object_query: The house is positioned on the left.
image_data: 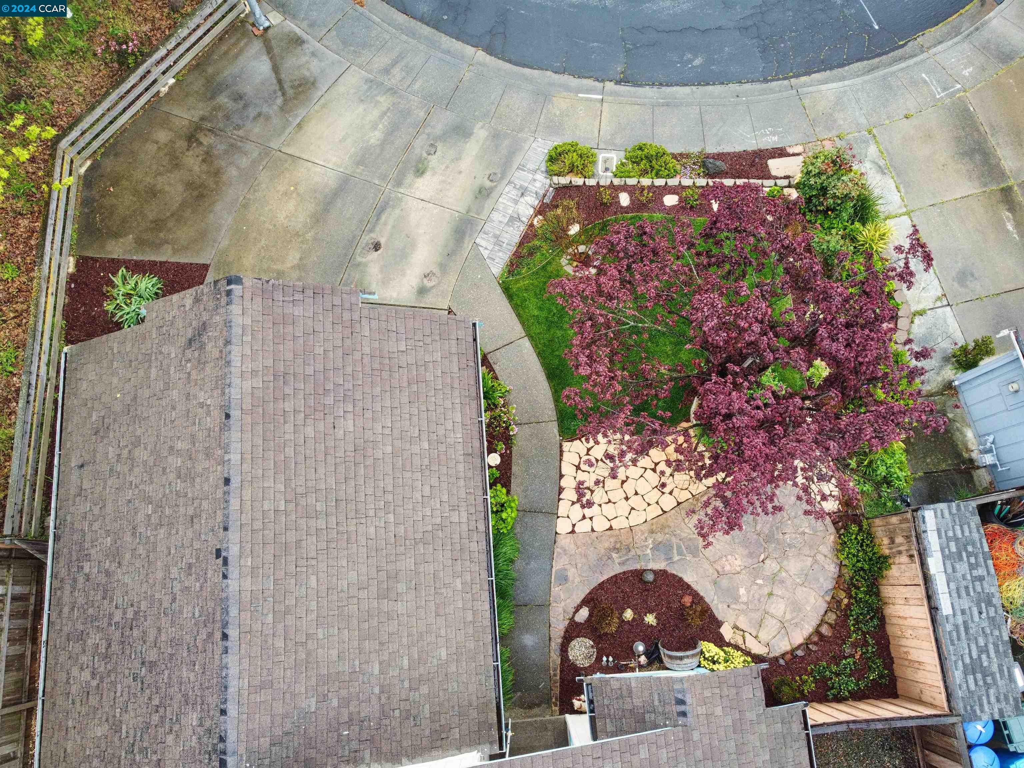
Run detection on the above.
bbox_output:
[28,273,509,768]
